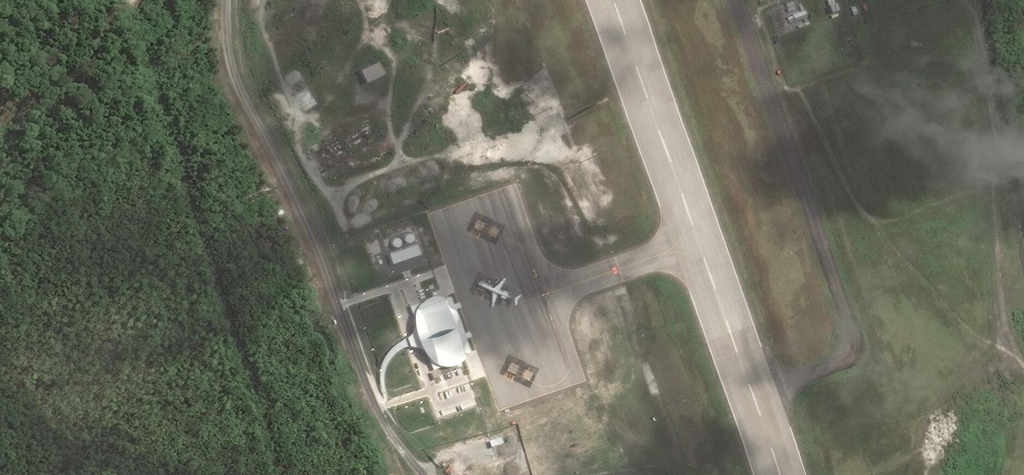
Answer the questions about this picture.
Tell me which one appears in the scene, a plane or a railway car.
plane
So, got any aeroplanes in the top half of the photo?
No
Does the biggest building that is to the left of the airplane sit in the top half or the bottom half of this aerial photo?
bottom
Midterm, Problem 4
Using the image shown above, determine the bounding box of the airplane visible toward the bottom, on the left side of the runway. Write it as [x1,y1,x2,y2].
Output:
[478,279,521,308]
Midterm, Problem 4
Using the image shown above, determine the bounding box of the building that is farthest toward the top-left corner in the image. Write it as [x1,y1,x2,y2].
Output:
[286,70,318,111]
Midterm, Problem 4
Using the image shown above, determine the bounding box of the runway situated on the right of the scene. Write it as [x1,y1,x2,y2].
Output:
[585,0,808,475]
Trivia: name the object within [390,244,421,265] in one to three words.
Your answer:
building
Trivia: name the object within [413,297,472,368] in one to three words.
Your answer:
building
